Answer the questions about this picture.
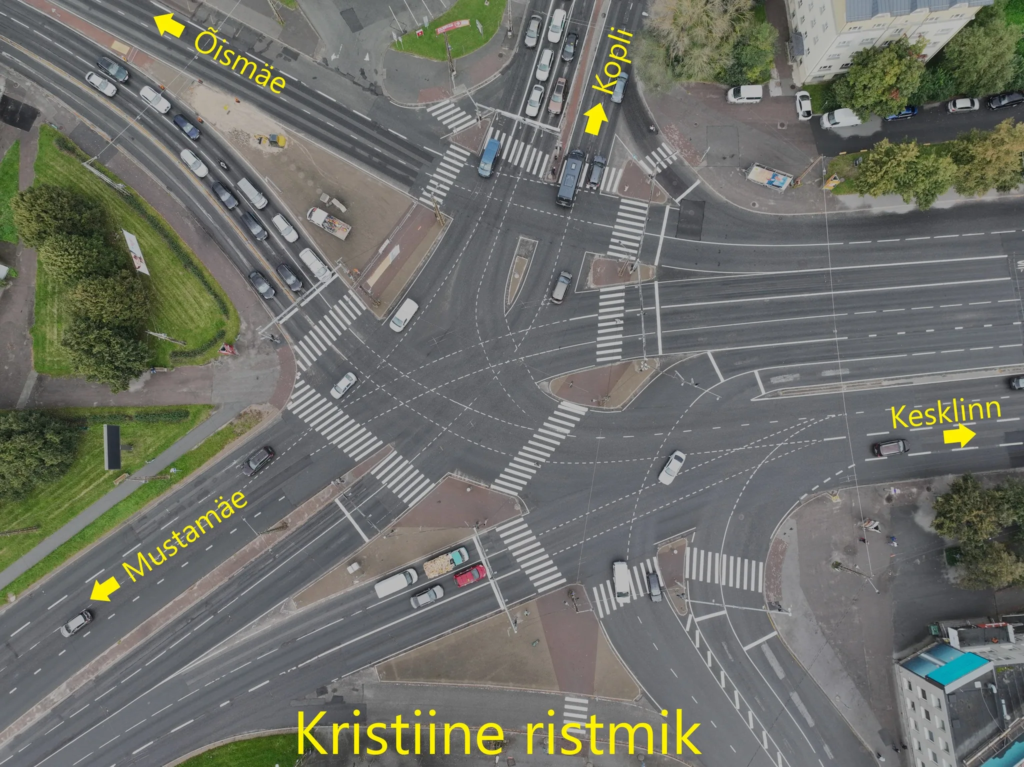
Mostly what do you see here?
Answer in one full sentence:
Most of the picture is covered by paved ground.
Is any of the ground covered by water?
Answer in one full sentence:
No, there's no water in this view.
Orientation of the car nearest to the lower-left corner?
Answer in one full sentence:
From this overhead view, the car nearest to the lower-left corner appears to run on a diagonal.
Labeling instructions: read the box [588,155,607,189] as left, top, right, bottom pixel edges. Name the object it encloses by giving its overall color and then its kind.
gray car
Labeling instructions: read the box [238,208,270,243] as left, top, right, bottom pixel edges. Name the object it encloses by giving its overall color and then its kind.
gray car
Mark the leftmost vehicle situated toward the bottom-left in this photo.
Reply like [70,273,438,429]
[59,608,95,639]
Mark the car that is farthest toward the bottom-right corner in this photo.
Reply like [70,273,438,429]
[874,439,909,456]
